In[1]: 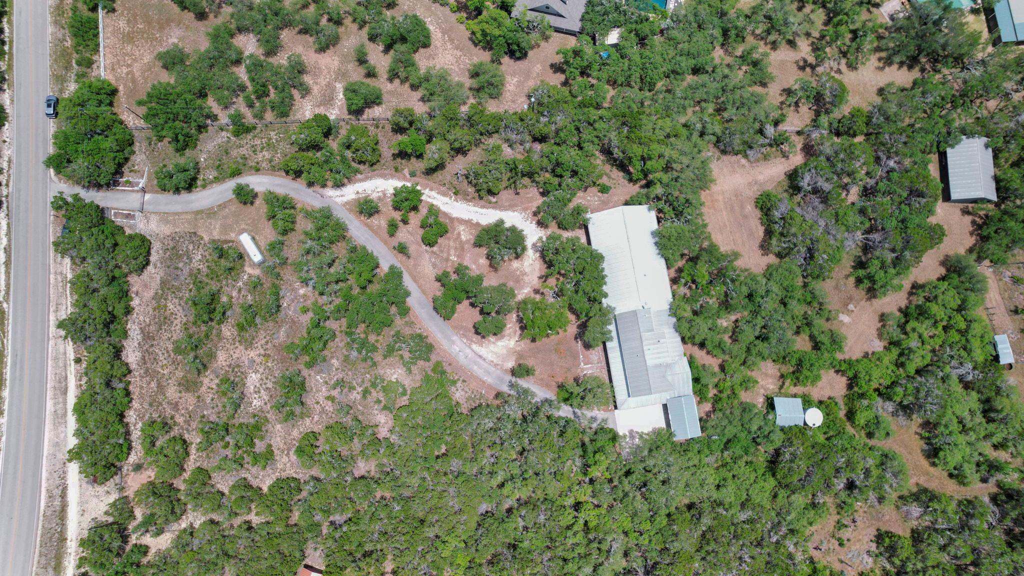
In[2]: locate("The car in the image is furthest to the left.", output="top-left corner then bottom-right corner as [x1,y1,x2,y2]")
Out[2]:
[44,96,59,118]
